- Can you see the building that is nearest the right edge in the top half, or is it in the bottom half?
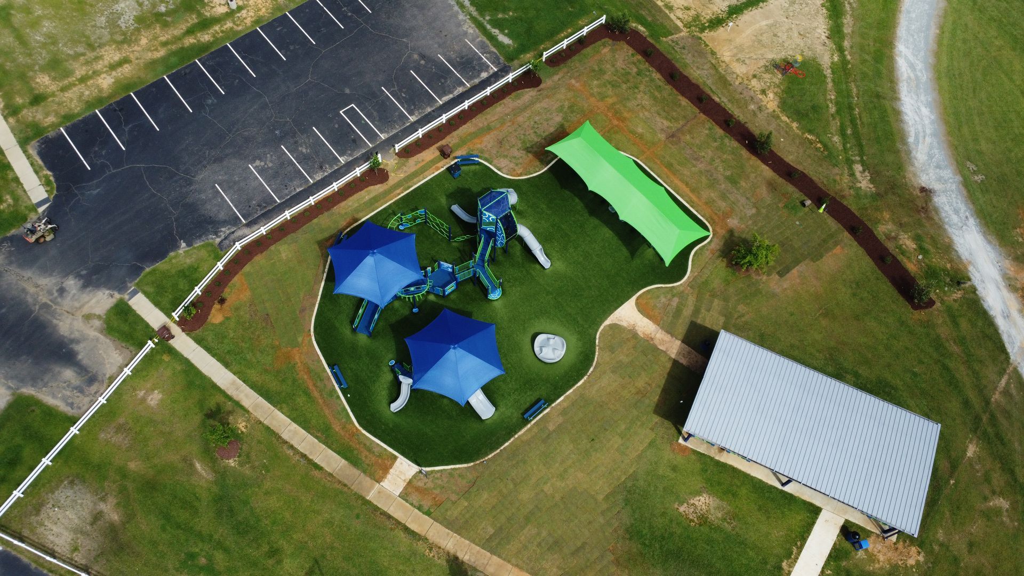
bottom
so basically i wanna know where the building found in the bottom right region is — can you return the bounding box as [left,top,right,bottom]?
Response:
[683,329,943,543]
